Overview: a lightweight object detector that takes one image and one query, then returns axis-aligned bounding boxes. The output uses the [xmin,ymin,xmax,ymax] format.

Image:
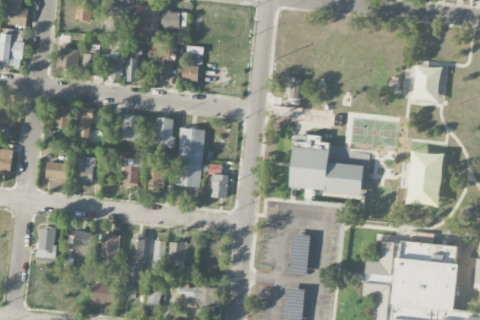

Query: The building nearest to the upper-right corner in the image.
[410,64,444,104]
